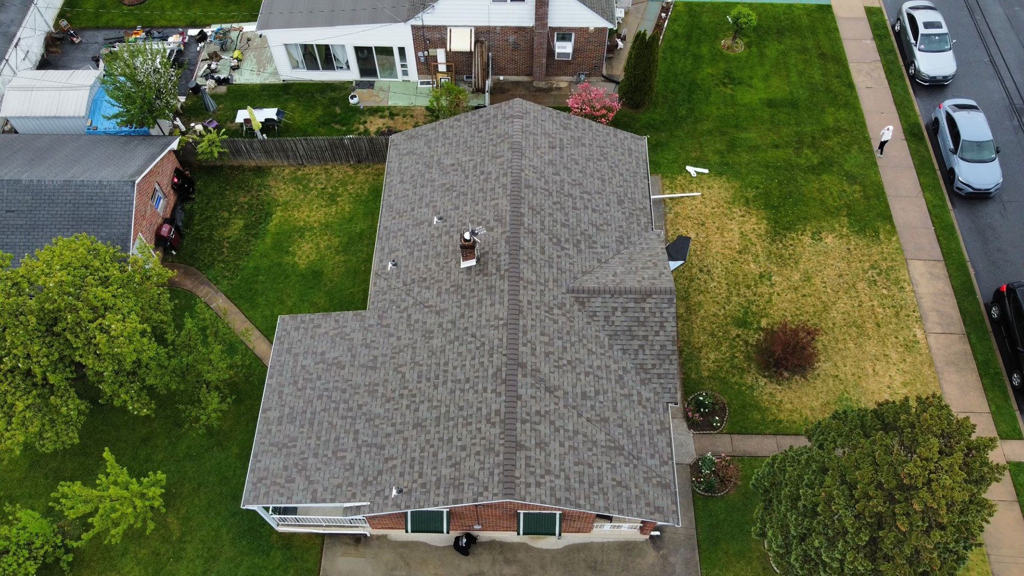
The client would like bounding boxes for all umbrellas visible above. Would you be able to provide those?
[247,105,265,139]
[201,85,221,114]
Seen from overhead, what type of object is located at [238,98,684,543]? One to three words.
house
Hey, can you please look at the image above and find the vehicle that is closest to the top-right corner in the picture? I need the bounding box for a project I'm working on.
[895,2,959,86]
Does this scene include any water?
No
